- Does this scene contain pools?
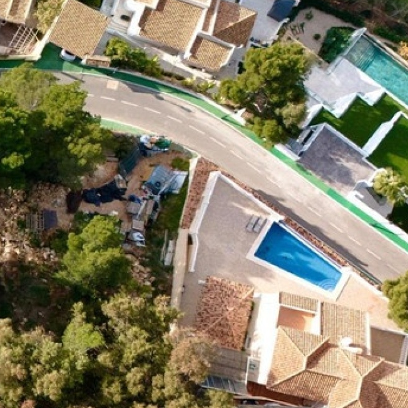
Yes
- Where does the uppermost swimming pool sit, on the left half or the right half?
right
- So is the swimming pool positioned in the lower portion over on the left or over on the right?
right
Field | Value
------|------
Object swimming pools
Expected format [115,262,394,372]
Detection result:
[247,217,348,299]
[344,36,408,116]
